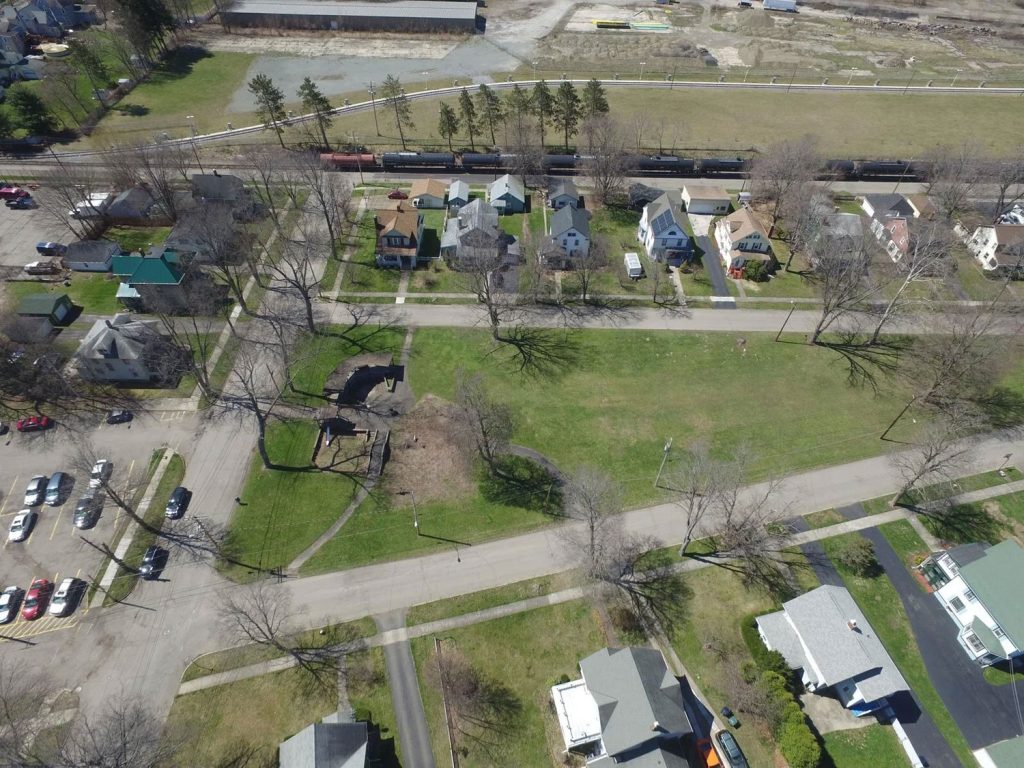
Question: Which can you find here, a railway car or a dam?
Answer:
railway car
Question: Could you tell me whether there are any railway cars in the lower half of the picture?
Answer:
No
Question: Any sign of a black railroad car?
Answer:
Yes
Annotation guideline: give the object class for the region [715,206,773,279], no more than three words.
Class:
house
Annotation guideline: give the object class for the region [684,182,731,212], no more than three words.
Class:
building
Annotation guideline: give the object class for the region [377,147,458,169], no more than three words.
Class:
rail car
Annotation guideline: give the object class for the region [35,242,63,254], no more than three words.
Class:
vehicle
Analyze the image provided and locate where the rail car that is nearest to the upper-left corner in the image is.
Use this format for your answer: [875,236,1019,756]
[317,146,378,169]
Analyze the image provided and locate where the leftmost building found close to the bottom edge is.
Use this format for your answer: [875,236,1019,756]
[278,711,380,768]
